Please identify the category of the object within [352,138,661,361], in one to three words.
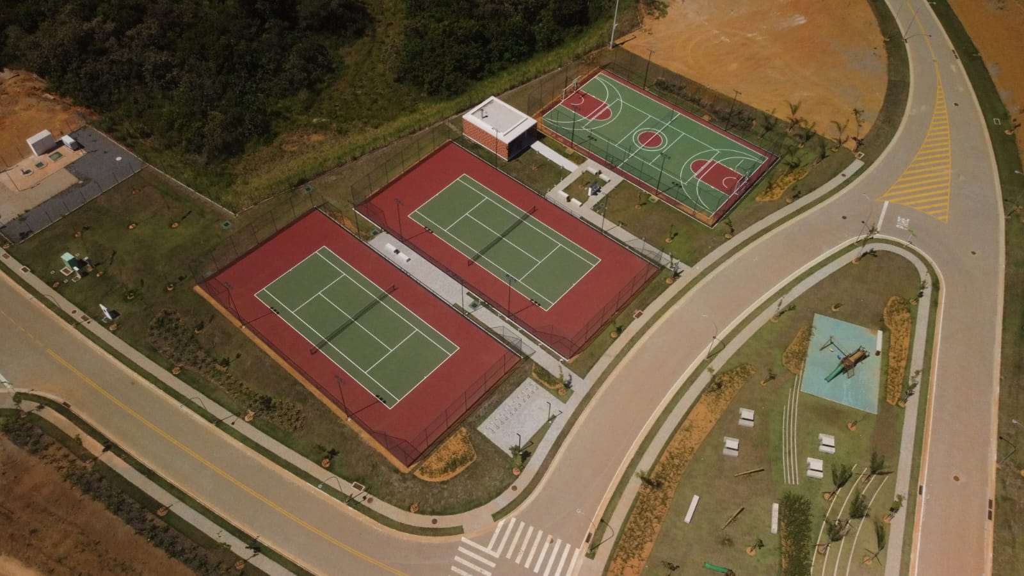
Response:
tennis court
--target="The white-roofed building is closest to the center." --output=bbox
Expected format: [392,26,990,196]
[462,95,539,161]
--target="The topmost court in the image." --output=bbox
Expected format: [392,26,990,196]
[529,64,781,228]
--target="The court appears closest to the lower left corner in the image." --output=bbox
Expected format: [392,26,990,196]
[196,205,525,468]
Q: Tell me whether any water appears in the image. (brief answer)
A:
No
